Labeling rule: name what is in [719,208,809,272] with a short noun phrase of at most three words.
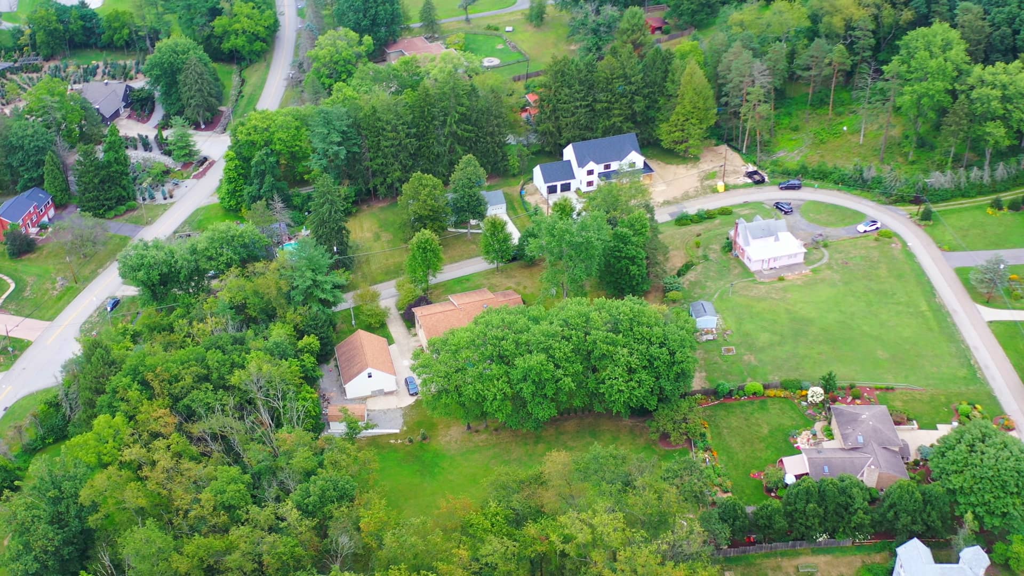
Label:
house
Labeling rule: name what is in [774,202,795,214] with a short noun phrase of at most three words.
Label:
vehicle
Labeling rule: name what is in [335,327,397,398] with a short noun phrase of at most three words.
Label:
building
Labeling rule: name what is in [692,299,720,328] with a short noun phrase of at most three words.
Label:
shed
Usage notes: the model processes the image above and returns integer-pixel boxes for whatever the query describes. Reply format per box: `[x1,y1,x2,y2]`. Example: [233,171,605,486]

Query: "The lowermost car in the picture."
[403,373,420,398]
